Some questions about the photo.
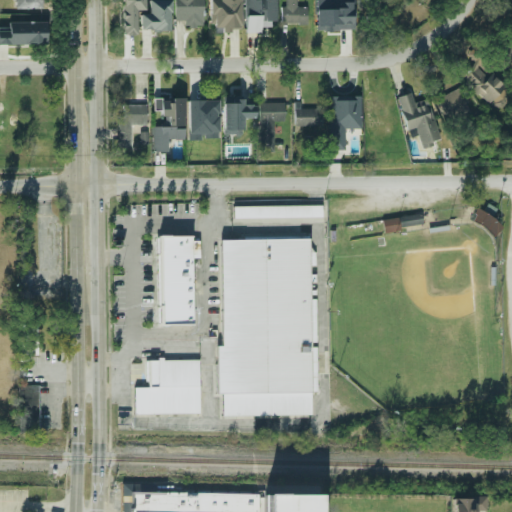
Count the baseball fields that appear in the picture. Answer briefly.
1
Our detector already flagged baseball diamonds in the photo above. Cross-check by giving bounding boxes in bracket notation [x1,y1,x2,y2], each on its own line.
[330,226,500,409]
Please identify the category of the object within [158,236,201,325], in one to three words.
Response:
building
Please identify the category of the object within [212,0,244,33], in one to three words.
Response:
house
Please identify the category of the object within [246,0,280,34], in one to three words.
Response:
house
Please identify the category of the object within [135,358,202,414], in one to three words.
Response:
building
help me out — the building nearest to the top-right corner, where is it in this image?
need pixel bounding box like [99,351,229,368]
[470,66,506,110]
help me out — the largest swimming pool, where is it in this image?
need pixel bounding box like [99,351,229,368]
[226,144,252,158]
